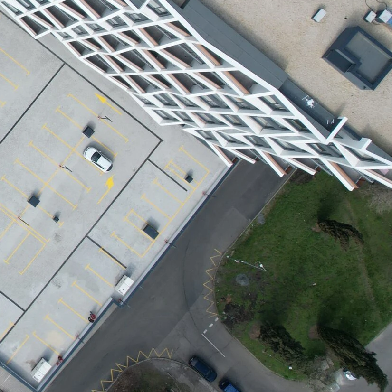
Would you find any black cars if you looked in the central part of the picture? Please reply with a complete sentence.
No, I can find no black car in the central part of the picture.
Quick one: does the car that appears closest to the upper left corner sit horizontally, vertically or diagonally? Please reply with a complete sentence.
In this picture, the car that appears closest to the upper left corner is oriented diagonally.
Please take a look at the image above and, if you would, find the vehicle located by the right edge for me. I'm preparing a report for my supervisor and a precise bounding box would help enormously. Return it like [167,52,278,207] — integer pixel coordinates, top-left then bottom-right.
[343,367,373,391]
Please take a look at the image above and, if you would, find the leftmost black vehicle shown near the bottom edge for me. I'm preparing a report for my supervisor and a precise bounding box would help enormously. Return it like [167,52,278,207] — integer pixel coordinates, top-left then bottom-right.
[189,355,221,387]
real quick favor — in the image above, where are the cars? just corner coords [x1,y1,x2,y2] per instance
[217,377,246,392]
[189,355,221,387]
[343,367,373,391]
[83,145,118,176]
